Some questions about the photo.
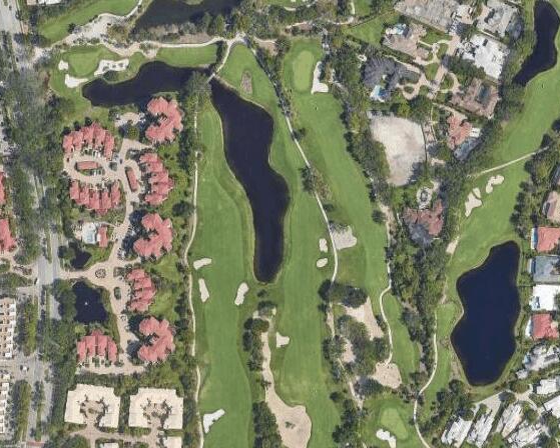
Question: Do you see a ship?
No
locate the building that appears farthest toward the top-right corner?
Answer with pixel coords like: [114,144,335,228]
[473,0,524,40]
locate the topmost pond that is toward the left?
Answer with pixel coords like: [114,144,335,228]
[133,0,235,36]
